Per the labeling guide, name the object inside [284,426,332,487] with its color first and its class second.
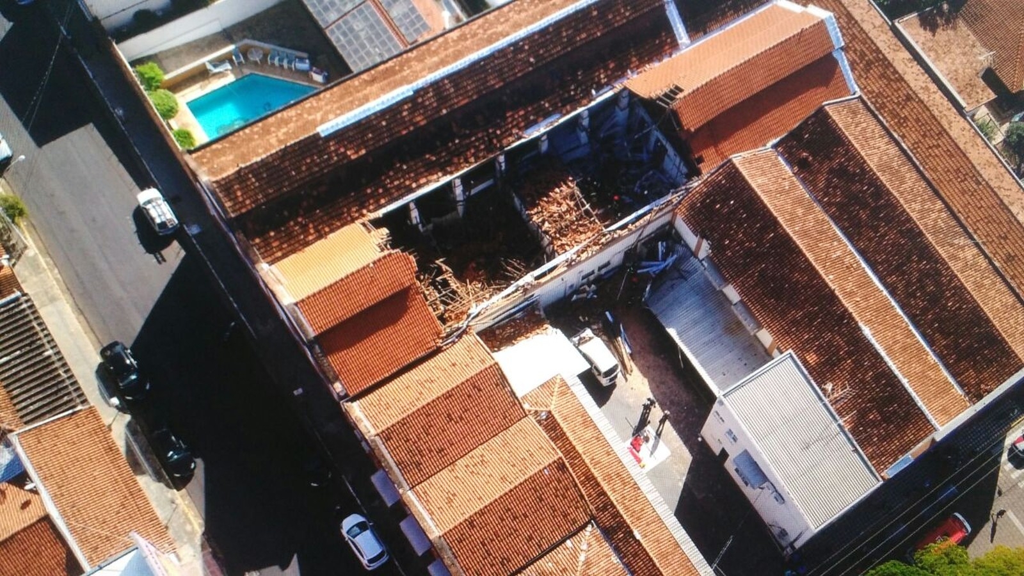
black car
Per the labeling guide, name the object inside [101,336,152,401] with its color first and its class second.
black car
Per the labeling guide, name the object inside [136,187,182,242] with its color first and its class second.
white car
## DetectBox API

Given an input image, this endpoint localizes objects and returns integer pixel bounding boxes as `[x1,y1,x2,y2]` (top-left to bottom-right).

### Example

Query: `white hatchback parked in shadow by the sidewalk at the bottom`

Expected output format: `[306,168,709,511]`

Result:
[341,514,391,576]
